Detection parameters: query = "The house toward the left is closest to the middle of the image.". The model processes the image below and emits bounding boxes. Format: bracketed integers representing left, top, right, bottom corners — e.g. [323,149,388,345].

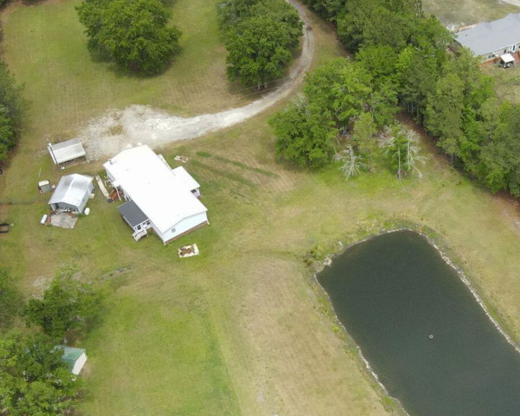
[103,148,214,250]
